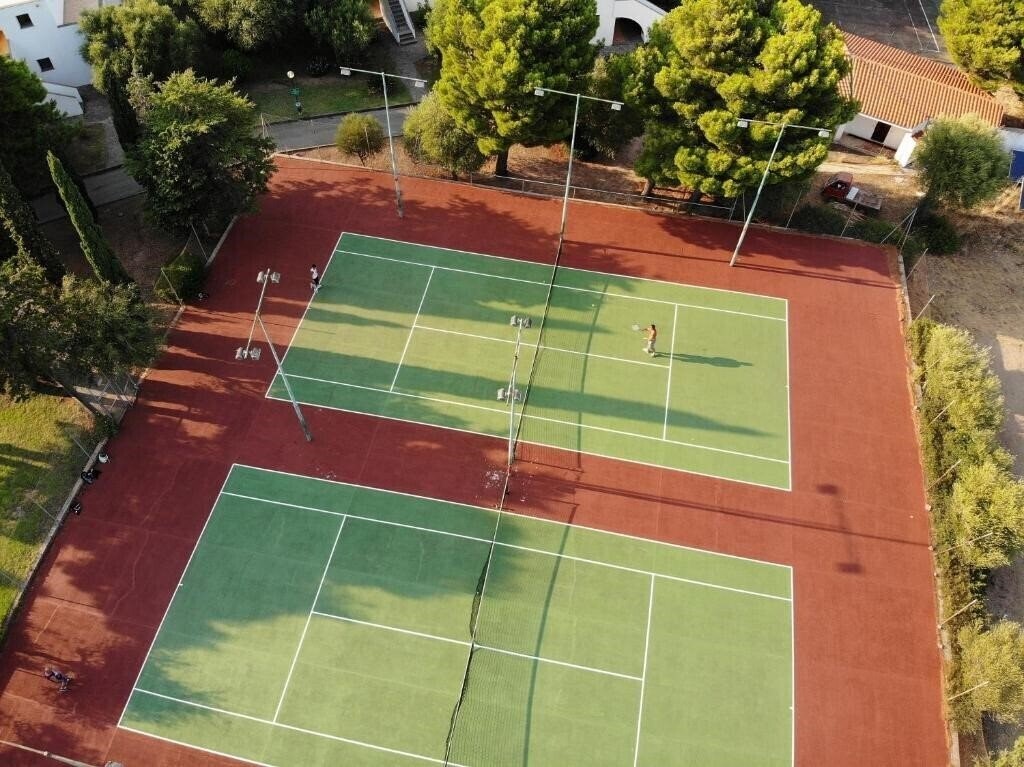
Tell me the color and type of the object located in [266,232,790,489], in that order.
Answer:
green tennis court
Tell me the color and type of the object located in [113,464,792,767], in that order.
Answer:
green tennis court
